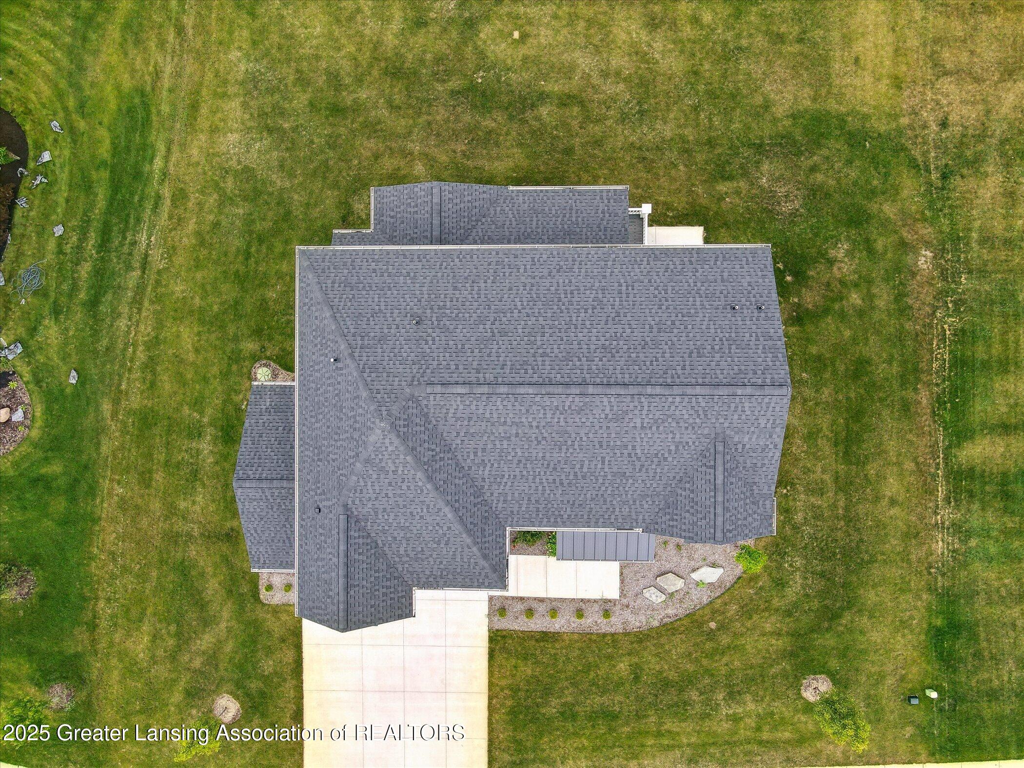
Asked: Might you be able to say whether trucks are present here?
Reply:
No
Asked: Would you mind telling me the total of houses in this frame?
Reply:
one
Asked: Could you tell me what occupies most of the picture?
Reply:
grass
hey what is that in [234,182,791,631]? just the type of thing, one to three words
house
